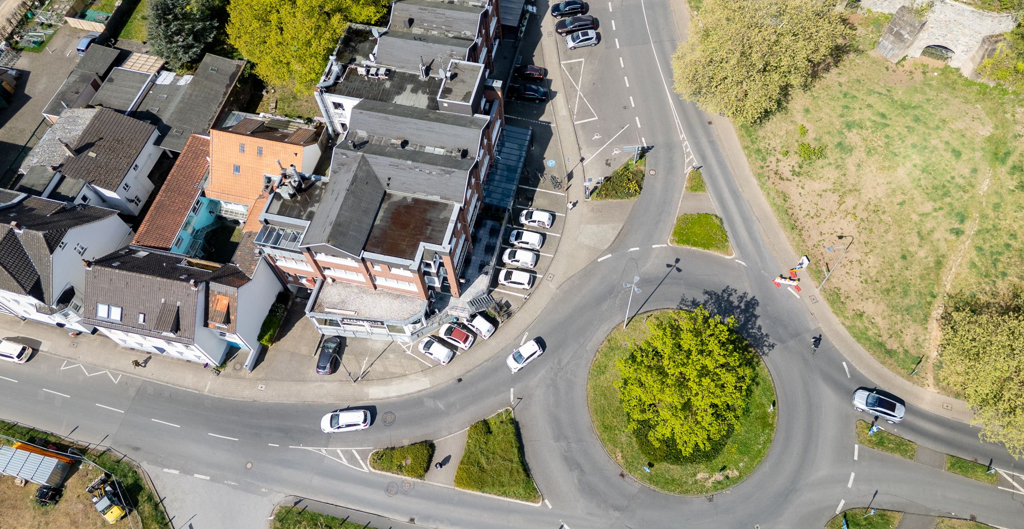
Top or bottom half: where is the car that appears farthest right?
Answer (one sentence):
The car that appears farthest right sits in the bottom half of the picture.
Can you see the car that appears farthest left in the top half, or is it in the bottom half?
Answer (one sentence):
The car that appears farthest left sits in the bottom half of the picture.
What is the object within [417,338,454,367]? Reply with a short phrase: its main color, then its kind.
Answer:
white car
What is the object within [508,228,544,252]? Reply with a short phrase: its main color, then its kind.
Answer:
white car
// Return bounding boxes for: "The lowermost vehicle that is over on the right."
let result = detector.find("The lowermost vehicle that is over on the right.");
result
[850,389,908,424]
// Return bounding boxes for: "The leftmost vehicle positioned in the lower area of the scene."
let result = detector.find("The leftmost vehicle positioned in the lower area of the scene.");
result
[0,335,31,362]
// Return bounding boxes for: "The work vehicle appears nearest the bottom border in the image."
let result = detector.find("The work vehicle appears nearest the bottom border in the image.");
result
[82,466,126,521]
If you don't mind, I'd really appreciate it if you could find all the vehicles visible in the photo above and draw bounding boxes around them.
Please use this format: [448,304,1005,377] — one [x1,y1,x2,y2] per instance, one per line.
[501,247,537,271]
[438,323,474,352]
[460,314,496,343]
[0,335,31,362]
[511,64,549,84]
[417,338,454,367]
[550,0,587,19]
[557,12,595,35]
[495,267,537,293]
[504,336,546,372]
[322,409,372,437]
[509,83,548,103]
[565,28,600,50]
[316,335,343,377]
[72,30,104,57]
[508,228,544,252]
[518,208,553,231]
[82,466,126,521]
[850,389,908,424]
